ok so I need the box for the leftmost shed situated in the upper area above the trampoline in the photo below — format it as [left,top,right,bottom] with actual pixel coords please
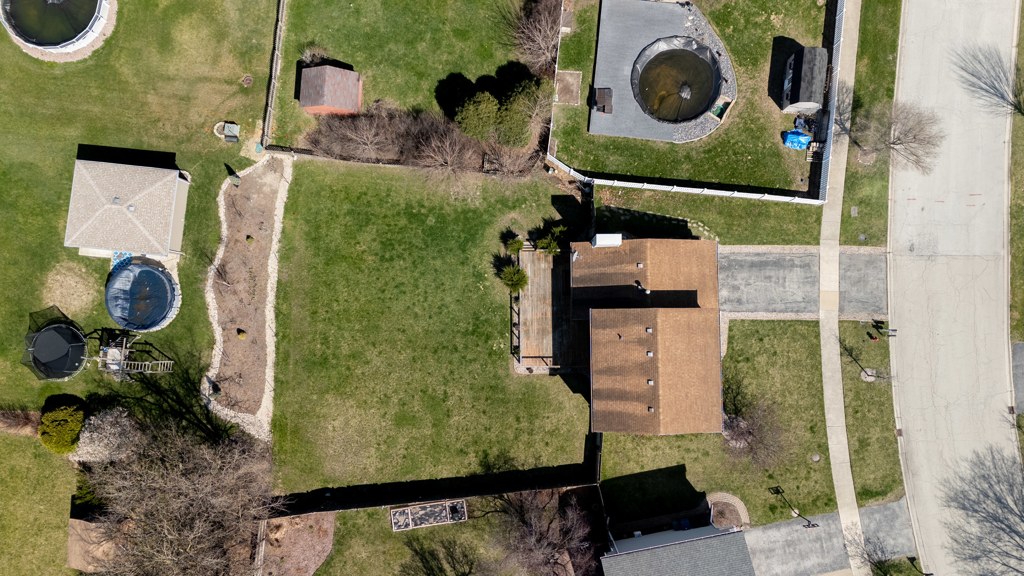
[64,158,190,258]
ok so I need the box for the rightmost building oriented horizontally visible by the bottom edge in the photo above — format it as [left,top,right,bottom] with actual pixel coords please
[595,506,755,576]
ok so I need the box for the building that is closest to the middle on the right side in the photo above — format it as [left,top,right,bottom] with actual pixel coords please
[569,233,725,438]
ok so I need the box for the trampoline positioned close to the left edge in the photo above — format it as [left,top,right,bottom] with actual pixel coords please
[17,324,92,382]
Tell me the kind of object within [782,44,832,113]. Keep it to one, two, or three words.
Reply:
shed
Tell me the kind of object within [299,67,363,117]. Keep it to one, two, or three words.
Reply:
shed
